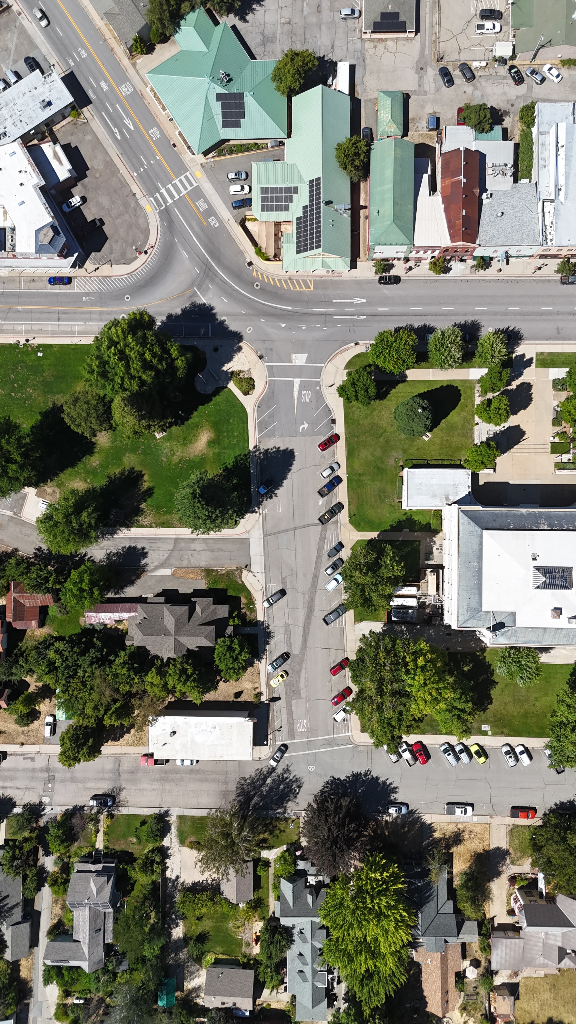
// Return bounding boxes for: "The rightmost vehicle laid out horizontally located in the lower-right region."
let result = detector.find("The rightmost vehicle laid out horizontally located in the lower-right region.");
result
[509,807,536,819]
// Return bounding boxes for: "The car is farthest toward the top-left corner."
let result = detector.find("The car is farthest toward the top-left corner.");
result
[32,6,49,29]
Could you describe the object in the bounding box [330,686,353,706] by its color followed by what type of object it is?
red car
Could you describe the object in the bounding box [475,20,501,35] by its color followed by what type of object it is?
white vehicle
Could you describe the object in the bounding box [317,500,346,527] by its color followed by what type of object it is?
black truck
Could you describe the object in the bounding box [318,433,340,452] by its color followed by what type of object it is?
red car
